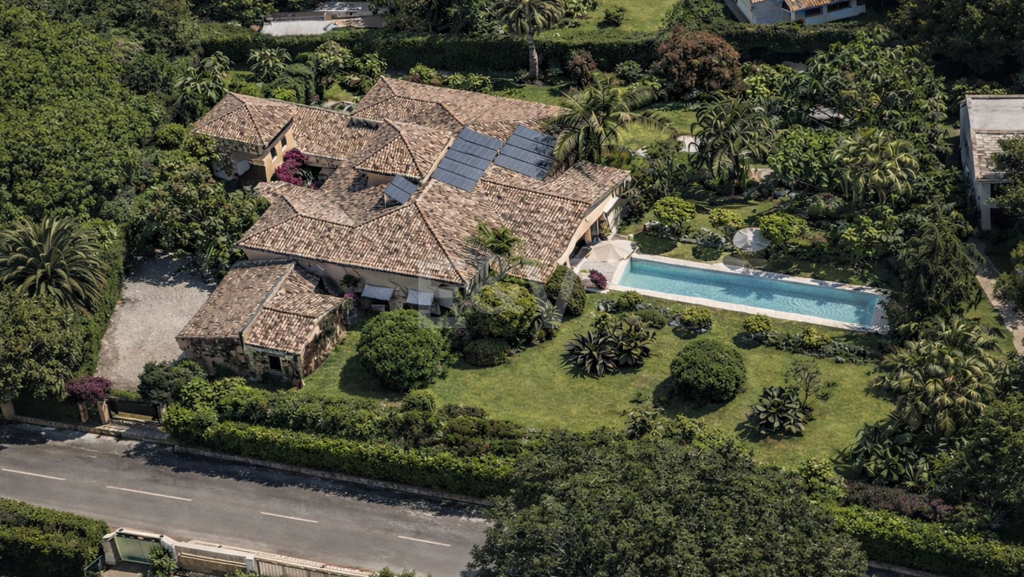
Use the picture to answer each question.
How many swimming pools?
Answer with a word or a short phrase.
1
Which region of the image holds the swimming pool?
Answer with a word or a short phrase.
right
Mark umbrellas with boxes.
[732,228,769,265]
[586,235,637,279]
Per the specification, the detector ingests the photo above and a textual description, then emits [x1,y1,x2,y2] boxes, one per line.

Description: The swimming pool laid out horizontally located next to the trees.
[606,250,894,335]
